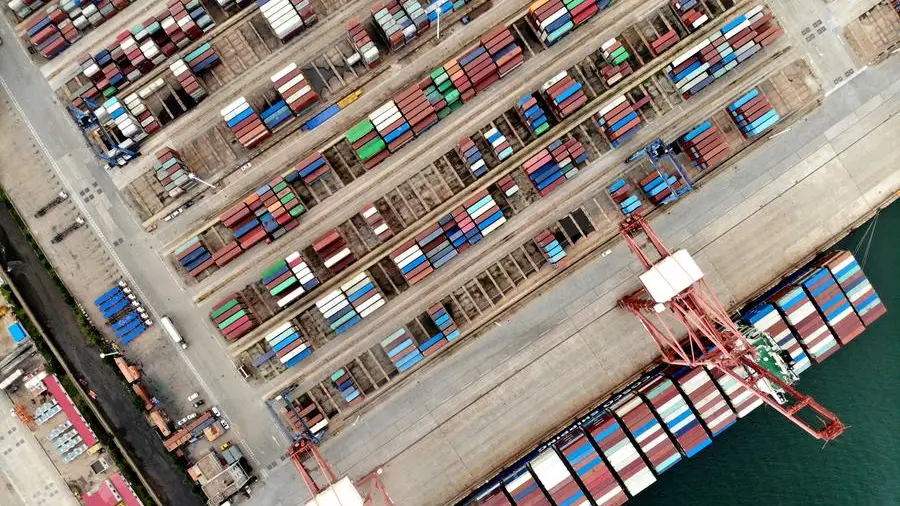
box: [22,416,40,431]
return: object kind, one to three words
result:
work vehicle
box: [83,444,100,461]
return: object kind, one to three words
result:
vehicle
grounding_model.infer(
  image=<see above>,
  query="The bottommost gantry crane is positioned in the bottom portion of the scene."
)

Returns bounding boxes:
[286,436,397,506]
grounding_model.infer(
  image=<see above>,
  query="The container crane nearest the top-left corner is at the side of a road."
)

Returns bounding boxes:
[68,98,142,167]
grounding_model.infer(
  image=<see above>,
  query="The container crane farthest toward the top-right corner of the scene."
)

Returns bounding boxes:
[626,141,694,210]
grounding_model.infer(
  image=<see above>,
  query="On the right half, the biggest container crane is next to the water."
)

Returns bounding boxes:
[613,213,856,446]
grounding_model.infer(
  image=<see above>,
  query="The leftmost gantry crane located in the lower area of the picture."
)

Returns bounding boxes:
[268,382,334,445]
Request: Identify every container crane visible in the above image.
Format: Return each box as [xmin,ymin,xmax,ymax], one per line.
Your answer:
[613,213,856,446]
[268,382,334,445]
[626,141,694,210]
[286,436,397,506]
[68,98,142,167]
